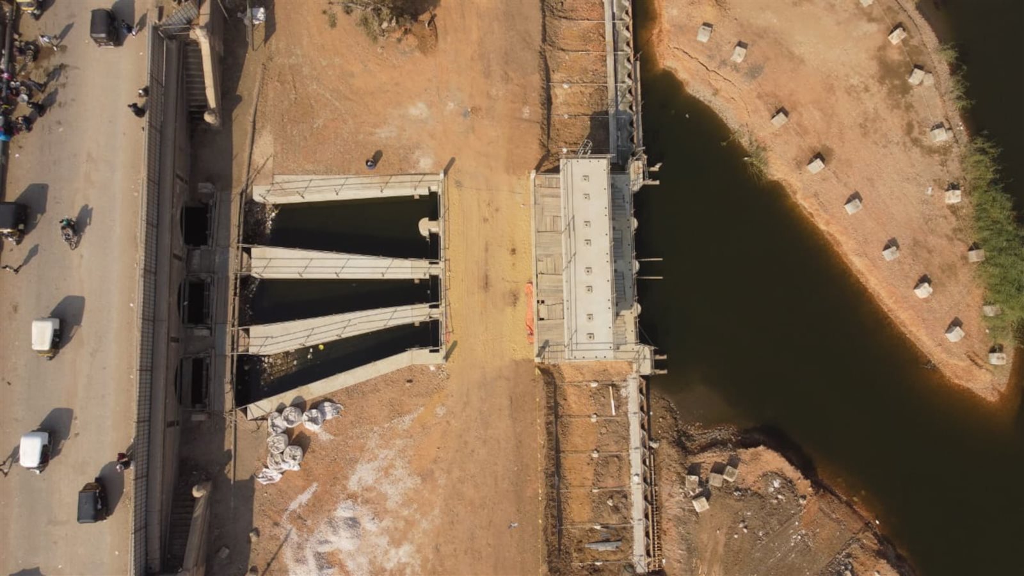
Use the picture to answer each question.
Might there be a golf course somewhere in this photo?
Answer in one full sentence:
No, this view has no golf course in it.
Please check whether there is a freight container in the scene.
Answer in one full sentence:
No, the photo shows no freight container.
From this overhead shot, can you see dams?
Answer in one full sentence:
Yes, I can see a dam in this picture.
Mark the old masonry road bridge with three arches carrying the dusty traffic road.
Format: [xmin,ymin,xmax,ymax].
[0,0,192,576]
